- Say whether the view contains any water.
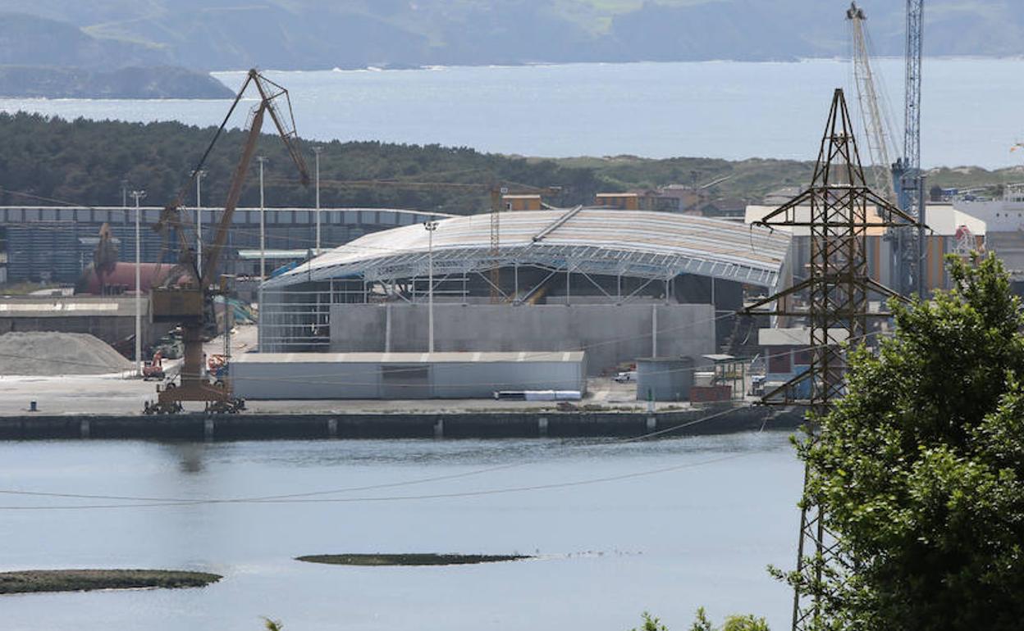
Yes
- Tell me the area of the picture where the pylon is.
right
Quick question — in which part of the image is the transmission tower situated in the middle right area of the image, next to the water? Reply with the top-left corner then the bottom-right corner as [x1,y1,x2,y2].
[721,87,949,631]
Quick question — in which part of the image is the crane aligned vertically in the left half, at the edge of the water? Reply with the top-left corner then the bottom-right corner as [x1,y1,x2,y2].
[142,69,312,412]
